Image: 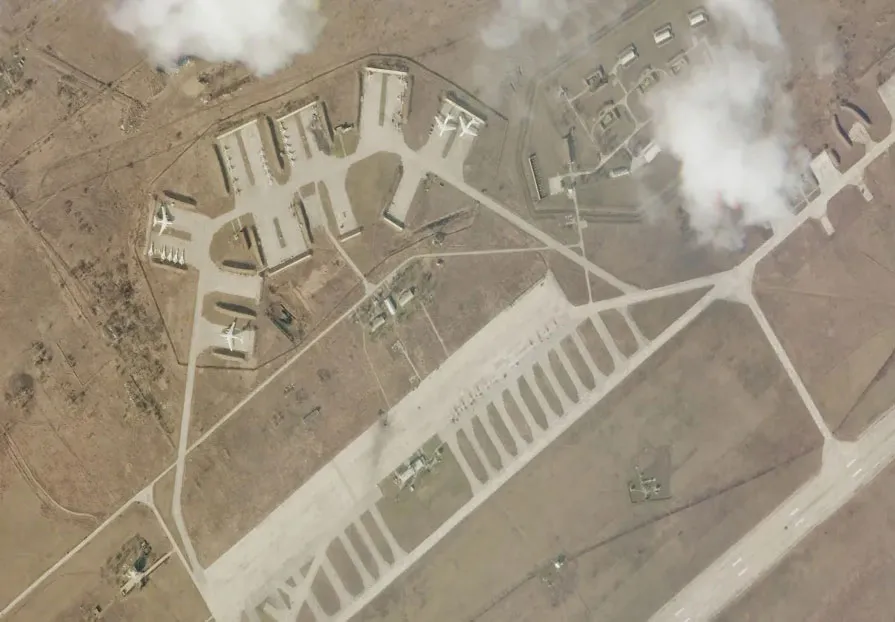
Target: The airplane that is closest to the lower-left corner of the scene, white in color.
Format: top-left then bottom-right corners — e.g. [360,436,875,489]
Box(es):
[219,324,243,353]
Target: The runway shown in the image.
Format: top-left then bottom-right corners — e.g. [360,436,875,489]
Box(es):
[646,405,895,622]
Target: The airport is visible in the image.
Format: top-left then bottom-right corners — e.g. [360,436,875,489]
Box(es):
[151,69,895,622]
